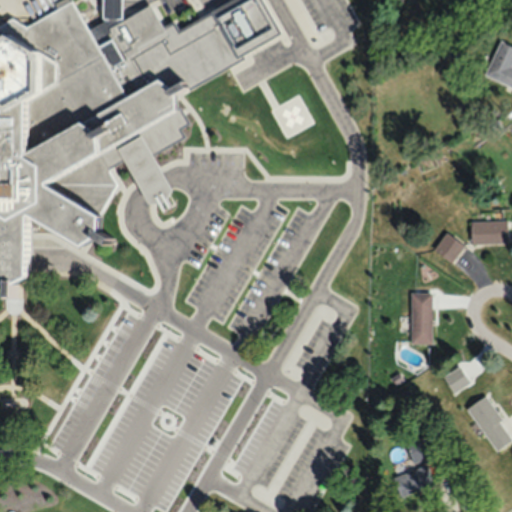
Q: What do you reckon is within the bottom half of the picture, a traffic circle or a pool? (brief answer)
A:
pool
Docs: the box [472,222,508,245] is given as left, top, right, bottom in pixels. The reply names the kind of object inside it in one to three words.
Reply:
house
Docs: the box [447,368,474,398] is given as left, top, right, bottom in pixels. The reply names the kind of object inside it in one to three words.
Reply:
house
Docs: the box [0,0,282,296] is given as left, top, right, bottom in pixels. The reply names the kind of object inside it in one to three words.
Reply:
building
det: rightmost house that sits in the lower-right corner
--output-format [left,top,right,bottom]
[466,397,512,452]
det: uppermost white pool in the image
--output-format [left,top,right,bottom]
[395,341,429,376]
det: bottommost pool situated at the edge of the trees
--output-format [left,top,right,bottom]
[389,446,408,466]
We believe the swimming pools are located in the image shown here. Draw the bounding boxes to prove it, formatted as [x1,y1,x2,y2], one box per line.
[389,446,408,466]
[395,341,429,376]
